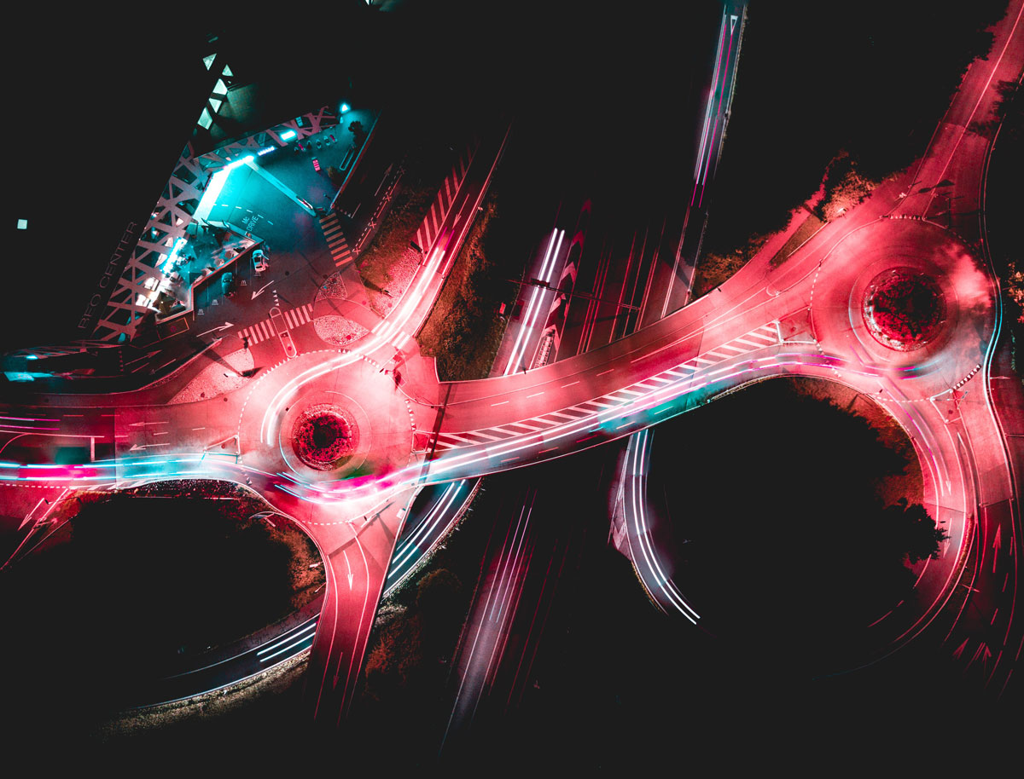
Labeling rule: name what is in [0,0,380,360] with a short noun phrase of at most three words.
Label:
building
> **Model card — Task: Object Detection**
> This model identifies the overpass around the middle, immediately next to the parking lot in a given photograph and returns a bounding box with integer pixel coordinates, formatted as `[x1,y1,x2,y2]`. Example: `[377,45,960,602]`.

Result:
[431,274,735,485]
